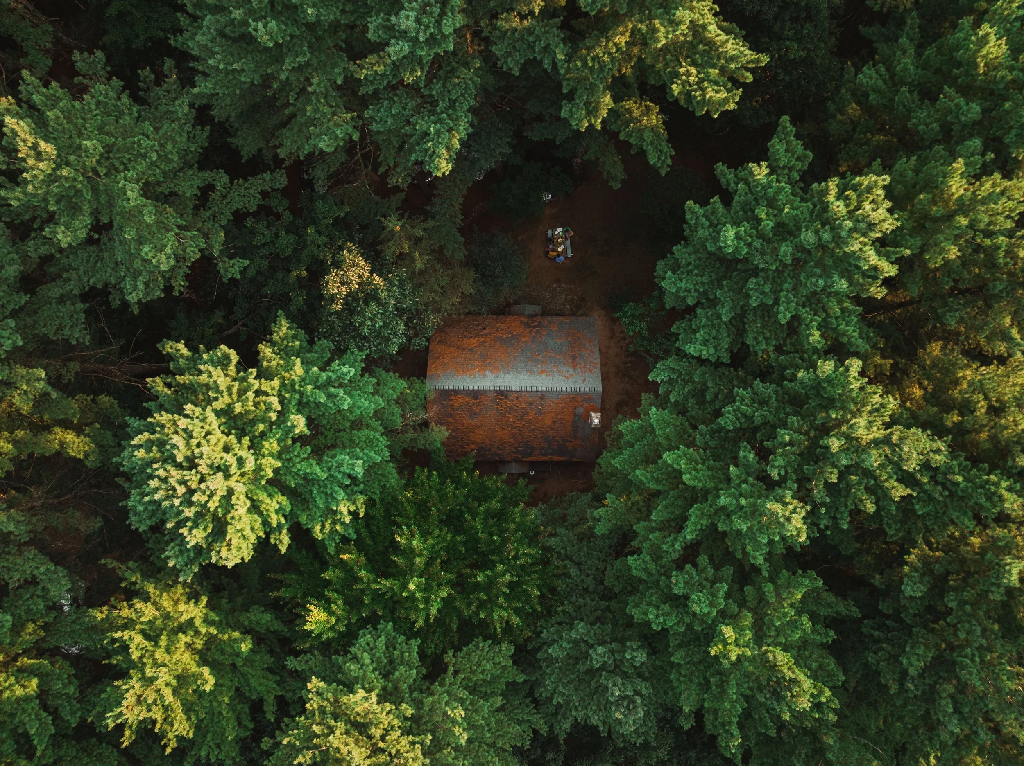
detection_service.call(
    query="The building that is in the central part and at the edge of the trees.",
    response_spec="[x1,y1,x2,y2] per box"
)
[426,305,602,474]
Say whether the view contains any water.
No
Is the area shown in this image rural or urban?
rural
